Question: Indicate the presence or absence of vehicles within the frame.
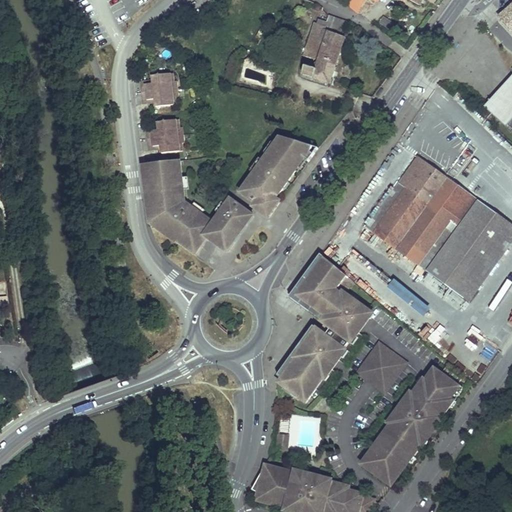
Yes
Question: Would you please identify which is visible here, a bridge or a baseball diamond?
bridge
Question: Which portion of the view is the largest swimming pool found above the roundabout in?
top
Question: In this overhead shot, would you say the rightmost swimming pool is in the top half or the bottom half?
bottom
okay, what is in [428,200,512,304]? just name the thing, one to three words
building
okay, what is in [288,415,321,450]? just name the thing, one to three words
swimming pool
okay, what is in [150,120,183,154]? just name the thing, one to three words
house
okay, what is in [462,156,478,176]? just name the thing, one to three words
vehicle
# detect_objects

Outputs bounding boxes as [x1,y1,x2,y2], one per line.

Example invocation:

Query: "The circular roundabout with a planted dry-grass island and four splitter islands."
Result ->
[171,264,272,380]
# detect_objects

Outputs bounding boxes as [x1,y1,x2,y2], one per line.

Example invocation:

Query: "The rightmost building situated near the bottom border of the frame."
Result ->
[360,365,464,486]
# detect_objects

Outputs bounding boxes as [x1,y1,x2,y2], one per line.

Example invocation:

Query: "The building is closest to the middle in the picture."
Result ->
[202,192,254,250]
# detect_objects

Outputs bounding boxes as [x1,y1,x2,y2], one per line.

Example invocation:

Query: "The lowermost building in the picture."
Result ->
[251,462,376,512]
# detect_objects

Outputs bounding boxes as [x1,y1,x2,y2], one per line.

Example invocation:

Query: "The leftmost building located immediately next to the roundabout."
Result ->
[139,160,210,254]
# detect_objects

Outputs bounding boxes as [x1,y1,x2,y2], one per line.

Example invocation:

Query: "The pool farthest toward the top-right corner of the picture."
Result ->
[238,60,274,88]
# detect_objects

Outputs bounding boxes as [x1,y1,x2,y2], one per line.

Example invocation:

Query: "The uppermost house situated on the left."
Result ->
[142,72,177,107]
